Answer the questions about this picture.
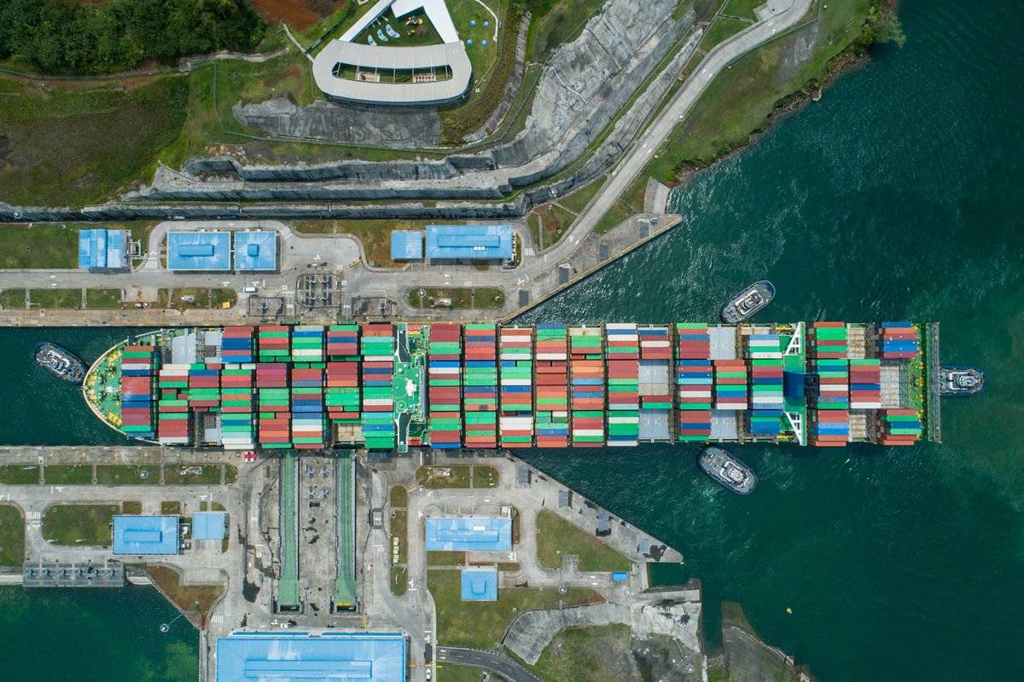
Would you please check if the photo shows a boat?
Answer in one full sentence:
Yes, looking at the shot, I can spot a boat.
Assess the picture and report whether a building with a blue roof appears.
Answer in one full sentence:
Yes, there is a building with a blue roof in the image.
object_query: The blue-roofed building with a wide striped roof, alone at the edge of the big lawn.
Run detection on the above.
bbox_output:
[79,230,124,268]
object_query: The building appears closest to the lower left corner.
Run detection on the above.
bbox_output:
[112,514,184,555]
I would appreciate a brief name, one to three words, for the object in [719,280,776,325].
boat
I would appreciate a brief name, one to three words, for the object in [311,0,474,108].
building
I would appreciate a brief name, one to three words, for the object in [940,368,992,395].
boat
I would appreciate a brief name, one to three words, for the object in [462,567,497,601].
building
